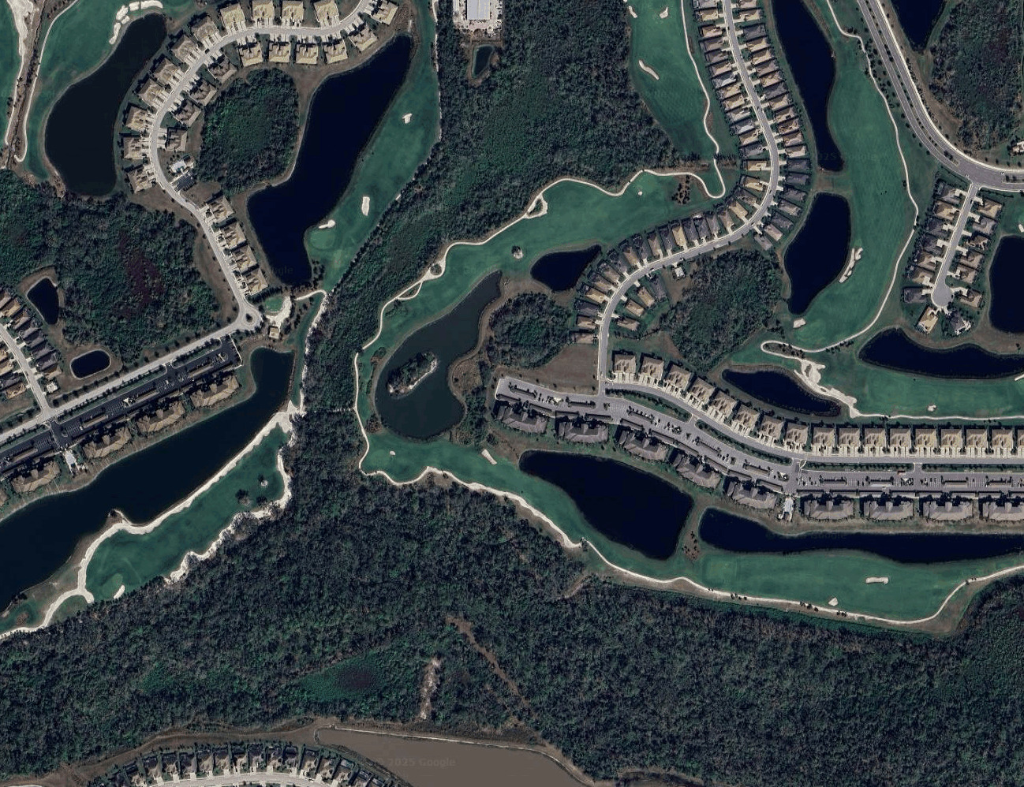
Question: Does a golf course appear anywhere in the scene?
Yes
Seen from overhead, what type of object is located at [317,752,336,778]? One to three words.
house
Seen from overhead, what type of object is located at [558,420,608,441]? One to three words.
building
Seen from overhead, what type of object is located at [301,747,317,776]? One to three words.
house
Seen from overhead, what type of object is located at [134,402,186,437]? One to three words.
building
